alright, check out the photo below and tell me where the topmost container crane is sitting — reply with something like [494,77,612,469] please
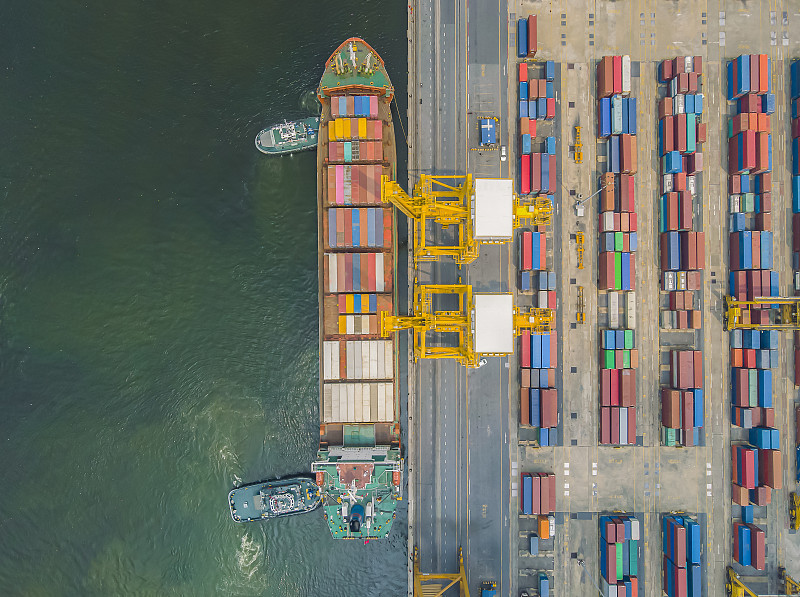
[380,173,558,273]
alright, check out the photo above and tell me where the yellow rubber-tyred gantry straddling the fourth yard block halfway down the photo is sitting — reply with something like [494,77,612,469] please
[725,295,800,332]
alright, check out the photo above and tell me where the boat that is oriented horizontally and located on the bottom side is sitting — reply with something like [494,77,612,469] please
[226,476,320,520]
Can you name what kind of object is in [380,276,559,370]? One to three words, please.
container crane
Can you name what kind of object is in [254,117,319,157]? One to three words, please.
boat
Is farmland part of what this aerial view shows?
No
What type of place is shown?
port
